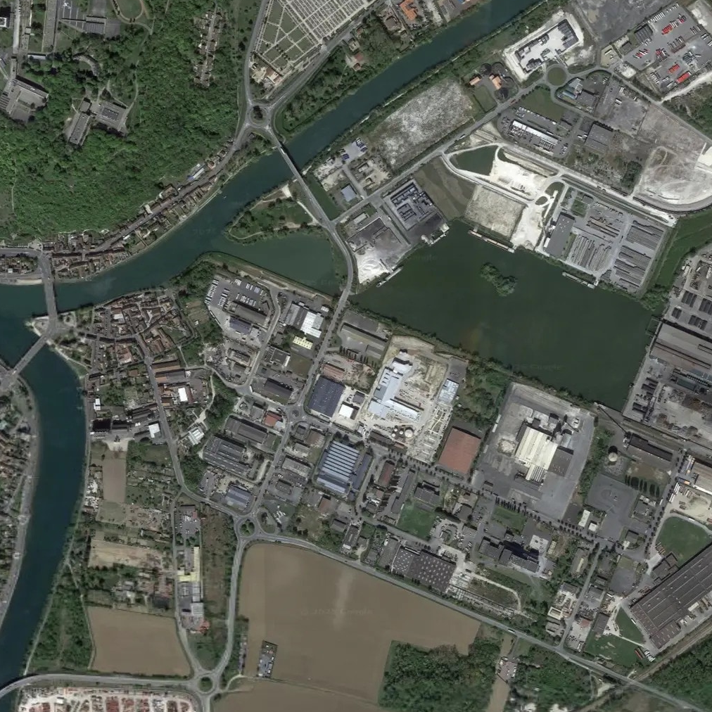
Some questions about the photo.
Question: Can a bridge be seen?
Yes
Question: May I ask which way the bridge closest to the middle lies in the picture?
on a diagonal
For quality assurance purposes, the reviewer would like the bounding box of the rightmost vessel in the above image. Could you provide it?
[563,274,594,289]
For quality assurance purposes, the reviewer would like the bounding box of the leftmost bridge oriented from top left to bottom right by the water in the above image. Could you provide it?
[272,136,327,214]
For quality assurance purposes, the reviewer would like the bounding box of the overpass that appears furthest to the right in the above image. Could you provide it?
[591,665,676,704]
